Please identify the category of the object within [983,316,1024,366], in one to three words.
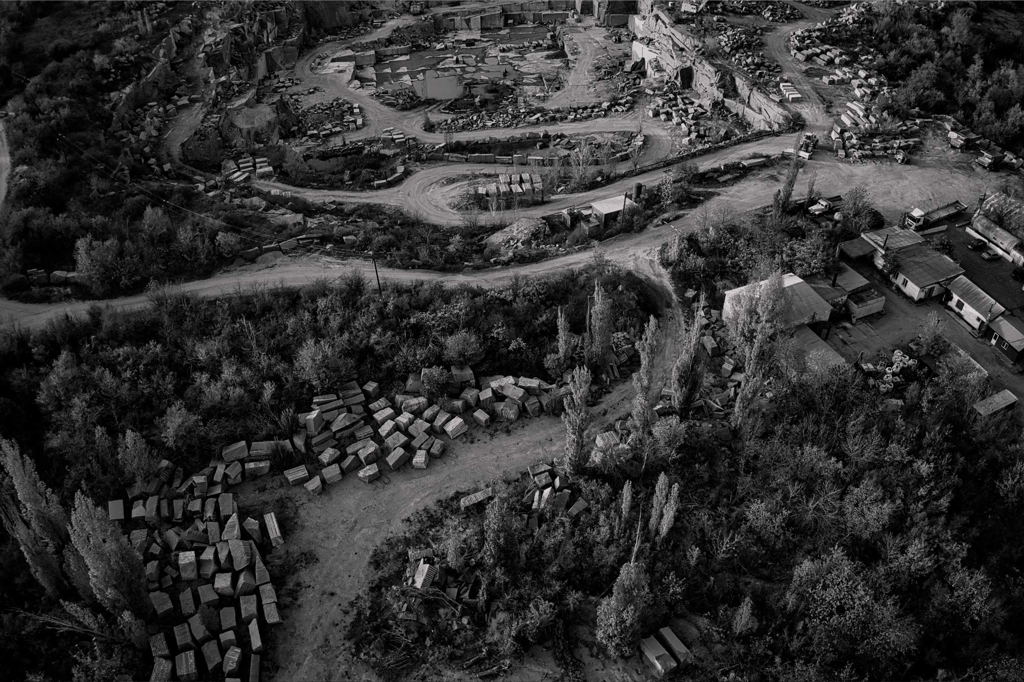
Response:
shed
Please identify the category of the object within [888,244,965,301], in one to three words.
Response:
house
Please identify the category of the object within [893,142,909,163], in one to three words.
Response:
work vehicle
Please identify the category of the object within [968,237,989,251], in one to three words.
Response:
car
